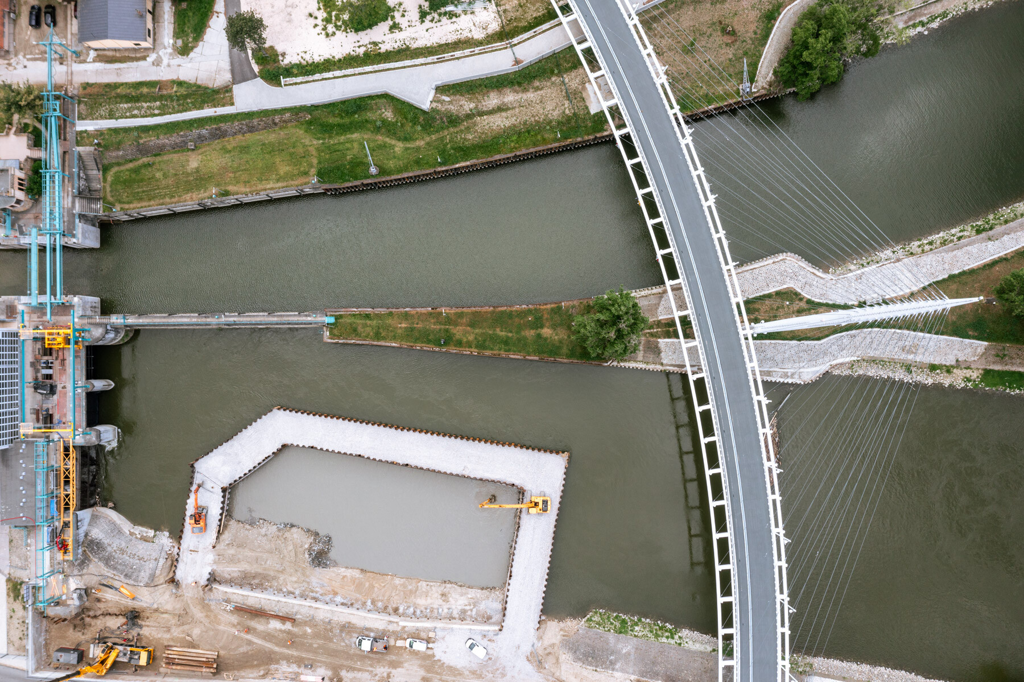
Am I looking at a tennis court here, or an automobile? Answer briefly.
automobile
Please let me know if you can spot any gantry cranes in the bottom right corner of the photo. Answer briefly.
No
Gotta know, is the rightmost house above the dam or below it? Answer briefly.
above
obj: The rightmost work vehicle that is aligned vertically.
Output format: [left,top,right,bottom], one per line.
[185,486,205,537]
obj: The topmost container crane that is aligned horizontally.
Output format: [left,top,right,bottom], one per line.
[17,323,83,348]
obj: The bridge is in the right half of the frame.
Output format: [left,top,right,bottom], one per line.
[553,0,985,682]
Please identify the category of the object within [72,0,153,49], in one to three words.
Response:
house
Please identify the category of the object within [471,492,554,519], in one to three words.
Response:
work vehicle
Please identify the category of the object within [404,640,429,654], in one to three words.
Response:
vehicle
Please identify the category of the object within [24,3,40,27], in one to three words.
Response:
car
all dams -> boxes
[0,296,139,512]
